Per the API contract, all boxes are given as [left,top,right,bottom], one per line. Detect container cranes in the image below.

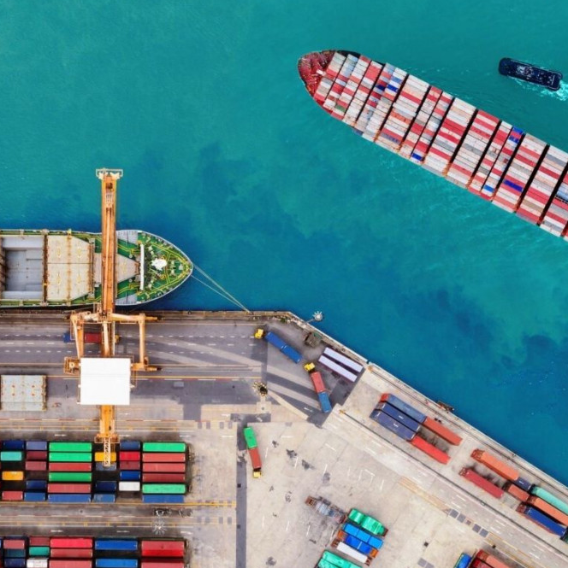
[68,167,163,468]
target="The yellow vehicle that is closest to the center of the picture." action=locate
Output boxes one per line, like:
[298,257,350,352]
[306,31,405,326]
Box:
[253,328,271,341]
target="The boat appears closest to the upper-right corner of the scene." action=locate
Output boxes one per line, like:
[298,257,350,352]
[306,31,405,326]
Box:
[496,58,564,94]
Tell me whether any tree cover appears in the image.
No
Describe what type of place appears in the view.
port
